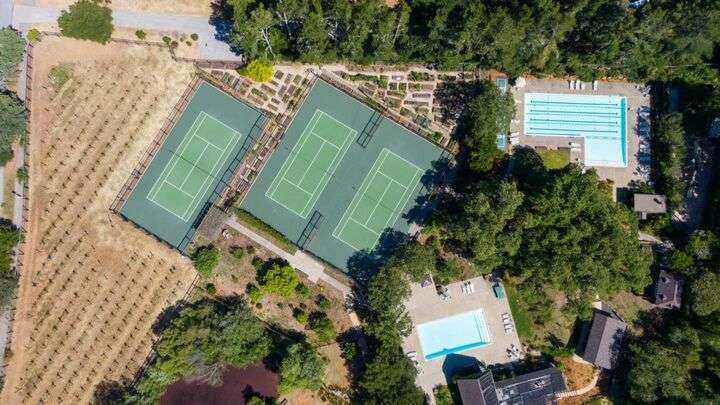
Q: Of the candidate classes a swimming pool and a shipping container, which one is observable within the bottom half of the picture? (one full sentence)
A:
You can see a swimming pool within the bottom half of the picture.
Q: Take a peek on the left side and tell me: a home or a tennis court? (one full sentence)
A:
Visible on the left side is a tennis court.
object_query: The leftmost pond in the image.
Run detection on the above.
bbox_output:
[146,349,283,405]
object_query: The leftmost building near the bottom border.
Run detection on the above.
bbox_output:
[455,366,503,405]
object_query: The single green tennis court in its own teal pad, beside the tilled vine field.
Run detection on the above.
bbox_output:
[120,81,262,252]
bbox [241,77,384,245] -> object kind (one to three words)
tennis court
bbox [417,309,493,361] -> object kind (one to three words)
swimming pool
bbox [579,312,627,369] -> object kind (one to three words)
house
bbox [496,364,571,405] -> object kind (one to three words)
house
